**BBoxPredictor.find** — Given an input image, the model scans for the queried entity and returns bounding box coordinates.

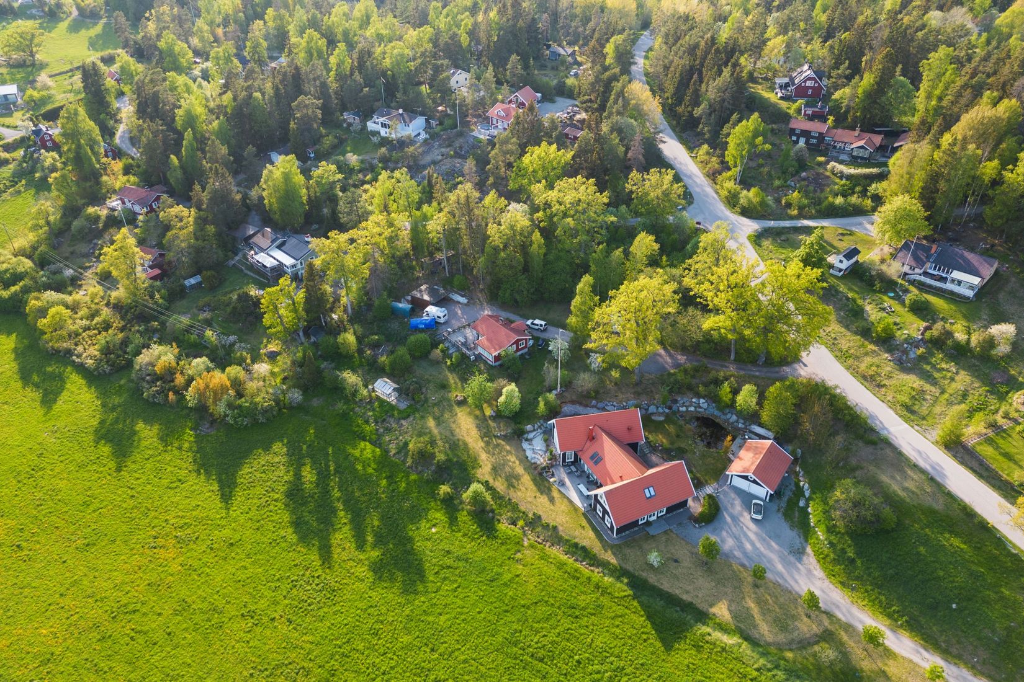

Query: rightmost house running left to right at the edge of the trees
[897,239,998,297]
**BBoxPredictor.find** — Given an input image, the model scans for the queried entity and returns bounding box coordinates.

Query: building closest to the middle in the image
[442,314,541,370]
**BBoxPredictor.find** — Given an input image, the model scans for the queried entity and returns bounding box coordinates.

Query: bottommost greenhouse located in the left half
[377,379,407,403]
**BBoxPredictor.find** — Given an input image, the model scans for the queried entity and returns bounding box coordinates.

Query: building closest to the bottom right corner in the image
[724,440,796,506]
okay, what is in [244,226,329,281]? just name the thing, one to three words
building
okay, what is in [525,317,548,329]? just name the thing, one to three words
vehicle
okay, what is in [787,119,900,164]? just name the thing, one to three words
house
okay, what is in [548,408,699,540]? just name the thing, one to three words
house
